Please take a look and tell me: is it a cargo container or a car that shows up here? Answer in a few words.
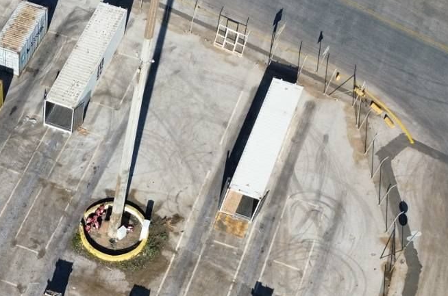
cargo container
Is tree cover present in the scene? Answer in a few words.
No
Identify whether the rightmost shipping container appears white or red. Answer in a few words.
white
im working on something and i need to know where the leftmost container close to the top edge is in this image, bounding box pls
[0,0,48,76]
